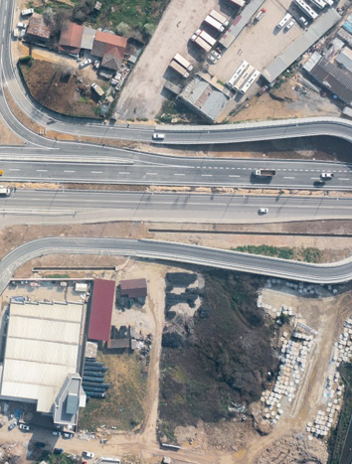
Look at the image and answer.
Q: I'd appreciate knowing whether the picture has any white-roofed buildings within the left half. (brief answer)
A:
Yes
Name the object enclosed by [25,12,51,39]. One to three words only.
shed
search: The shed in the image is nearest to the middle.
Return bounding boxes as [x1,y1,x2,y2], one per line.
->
[118,278,148,297]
